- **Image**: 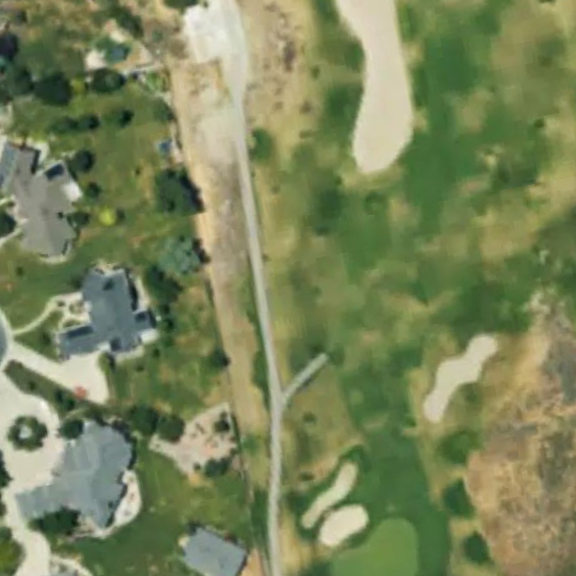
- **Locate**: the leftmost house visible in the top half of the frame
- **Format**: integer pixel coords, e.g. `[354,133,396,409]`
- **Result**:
[0,142,75,254]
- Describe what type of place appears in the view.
golf course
